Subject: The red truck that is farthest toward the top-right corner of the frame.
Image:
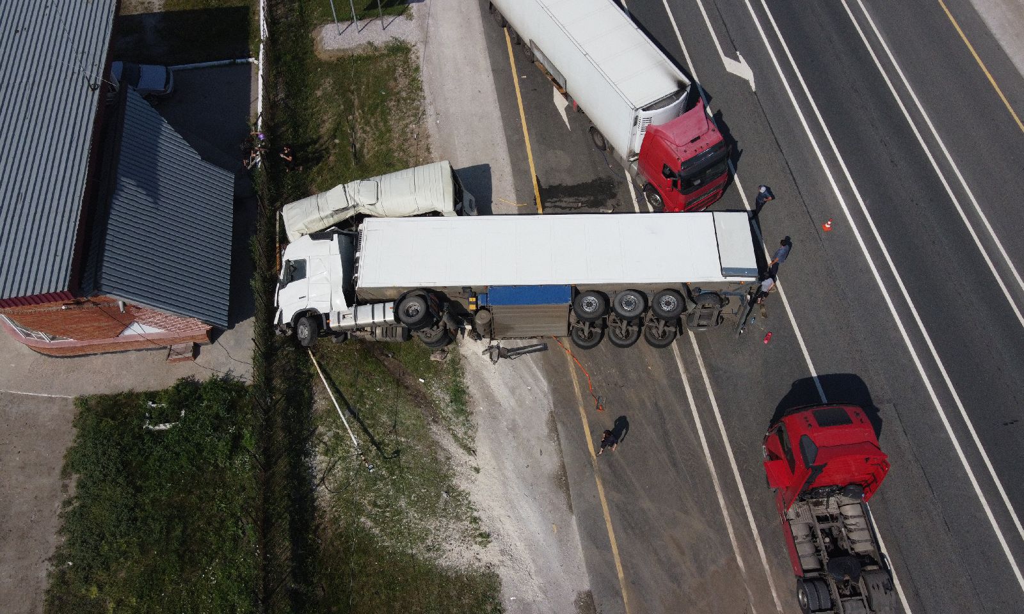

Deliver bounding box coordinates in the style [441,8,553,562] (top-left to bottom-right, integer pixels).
[591,96,743,217]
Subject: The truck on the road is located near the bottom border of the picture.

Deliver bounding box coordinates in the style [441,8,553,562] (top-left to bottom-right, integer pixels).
[755,400,903,614]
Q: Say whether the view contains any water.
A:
No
